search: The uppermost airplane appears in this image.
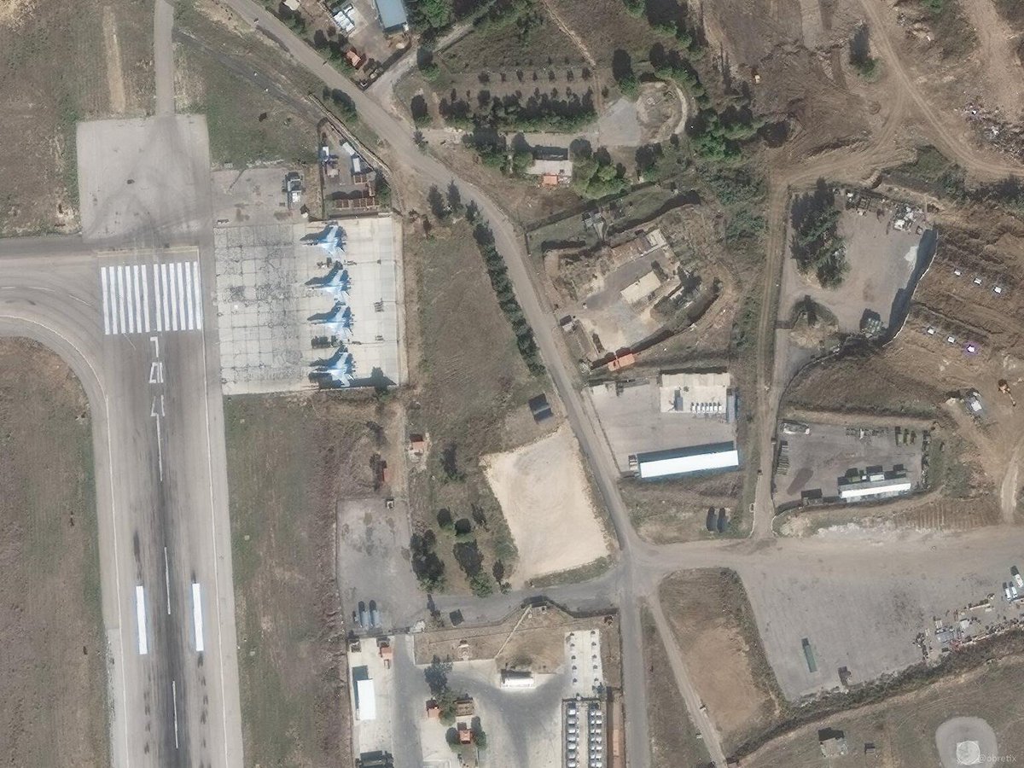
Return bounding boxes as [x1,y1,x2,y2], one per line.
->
[300,227,349,259]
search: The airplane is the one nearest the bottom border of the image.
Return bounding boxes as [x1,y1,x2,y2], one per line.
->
[309,354,359,387]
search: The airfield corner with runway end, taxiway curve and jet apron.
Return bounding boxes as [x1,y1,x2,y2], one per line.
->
[0,0,407,768]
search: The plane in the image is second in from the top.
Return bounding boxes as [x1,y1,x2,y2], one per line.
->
[304,270,353,302]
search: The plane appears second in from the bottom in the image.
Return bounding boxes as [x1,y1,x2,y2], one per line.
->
[307,307,356,339]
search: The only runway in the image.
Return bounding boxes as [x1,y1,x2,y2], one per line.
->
[90,242,243,768]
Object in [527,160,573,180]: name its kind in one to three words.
house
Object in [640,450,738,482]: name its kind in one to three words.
hangar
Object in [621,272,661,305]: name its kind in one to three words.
building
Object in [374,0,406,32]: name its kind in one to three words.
building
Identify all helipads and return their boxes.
[936,717,998,768]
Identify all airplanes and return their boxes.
[300,227,349,259]
[307,307,356,339]
[304,270,353,302]
[309,354,359,387]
